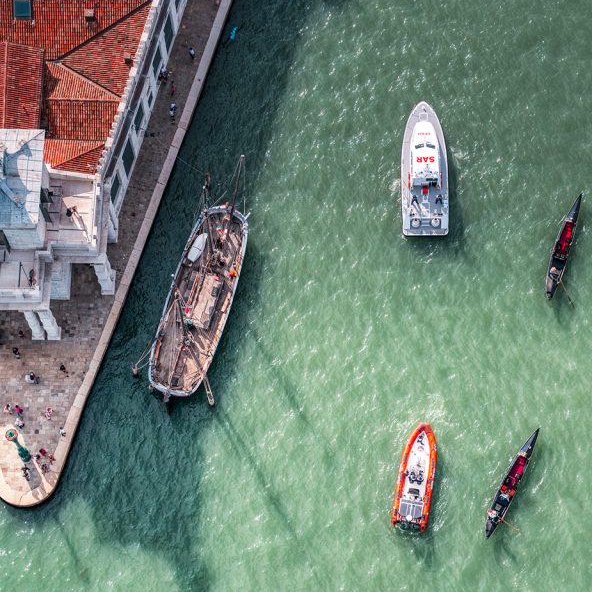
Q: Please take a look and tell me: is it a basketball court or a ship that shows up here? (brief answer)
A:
ship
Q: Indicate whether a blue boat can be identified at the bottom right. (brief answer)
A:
No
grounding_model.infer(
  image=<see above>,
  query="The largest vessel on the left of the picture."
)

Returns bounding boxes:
[148,154,256,410]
